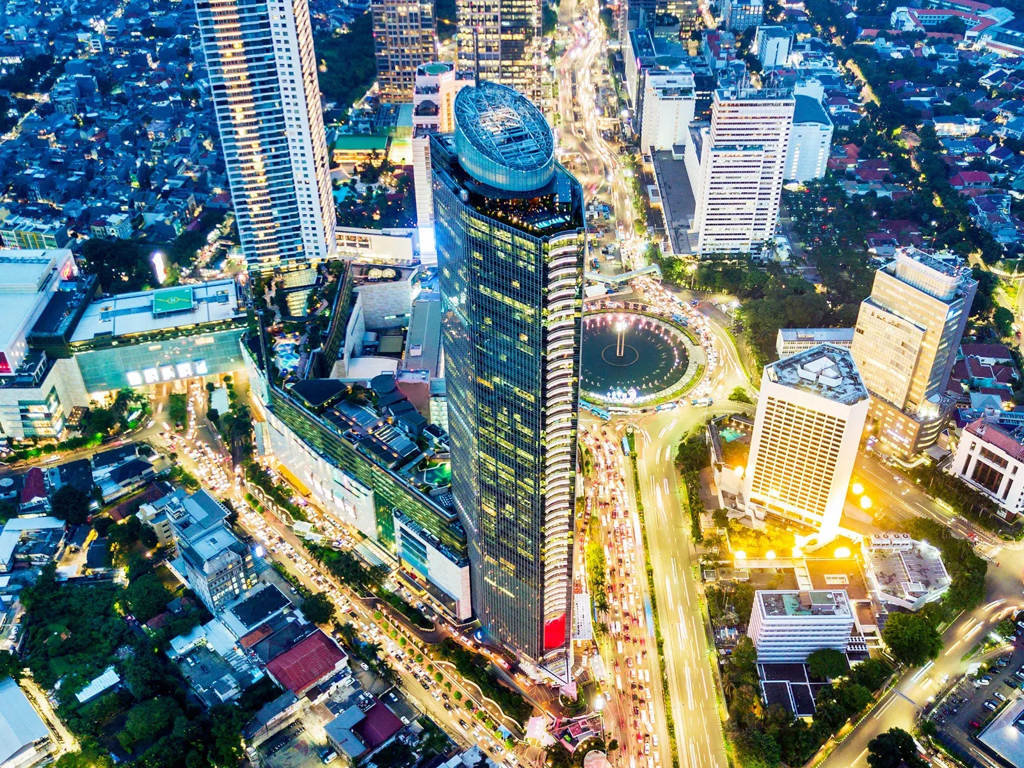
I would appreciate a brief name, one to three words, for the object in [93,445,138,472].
house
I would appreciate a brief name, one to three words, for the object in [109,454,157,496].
house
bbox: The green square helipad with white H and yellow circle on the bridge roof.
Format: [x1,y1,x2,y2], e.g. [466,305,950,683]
[153,287,194,320]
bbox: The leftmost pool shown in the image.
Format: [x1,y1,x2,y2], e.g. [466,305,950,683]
[274,339,301,375]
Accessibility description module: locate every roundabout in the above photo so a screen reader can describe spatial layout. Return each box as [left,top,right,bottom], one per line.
[578,276,766,450]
